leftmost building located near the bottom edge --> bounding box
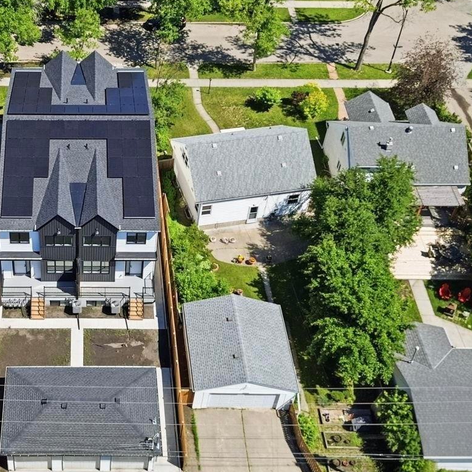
[0,365,168,466]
